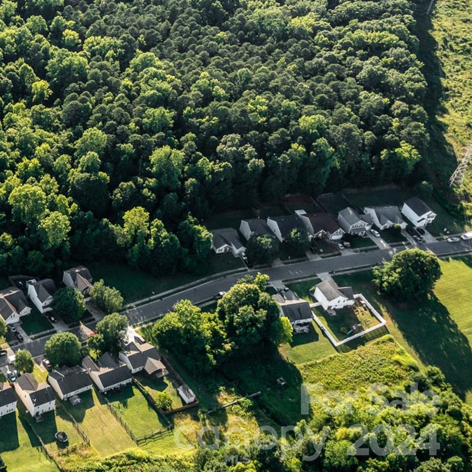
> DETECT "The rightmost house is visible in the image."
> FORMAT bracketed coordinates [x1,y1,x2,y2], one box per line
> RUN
[401,196,438,226]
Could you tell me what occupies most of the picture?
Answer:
trees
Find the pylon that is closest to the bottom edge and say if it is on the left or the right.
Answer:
right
